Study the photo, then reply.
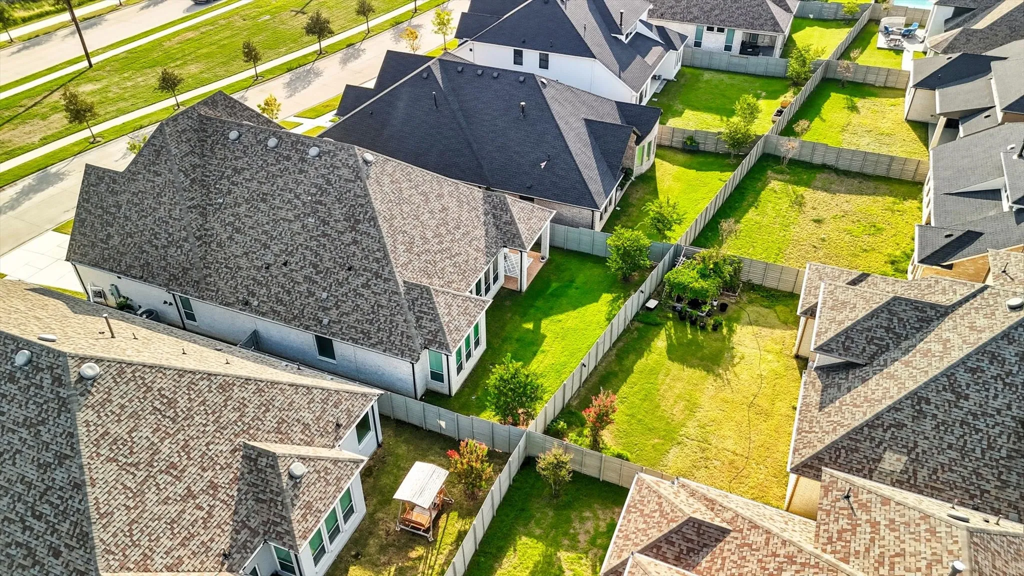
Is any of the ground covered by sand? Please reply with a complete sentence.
No, there is no sand in the image.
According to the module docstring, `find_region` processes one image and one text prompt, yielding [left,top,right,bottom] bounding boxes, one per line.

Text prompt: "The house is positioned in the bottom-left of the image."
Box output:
[0,279,391,576]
